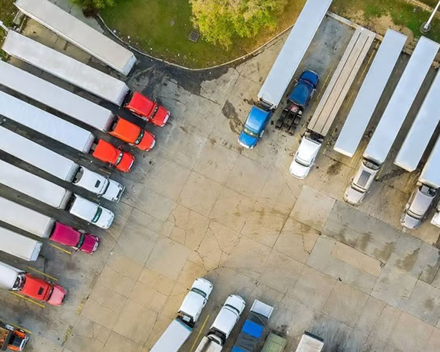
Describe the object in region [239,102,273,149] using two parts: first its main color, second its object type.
blue truck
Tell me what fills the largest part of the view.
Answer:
paved ground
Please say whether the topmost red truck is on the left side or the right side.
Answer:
left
